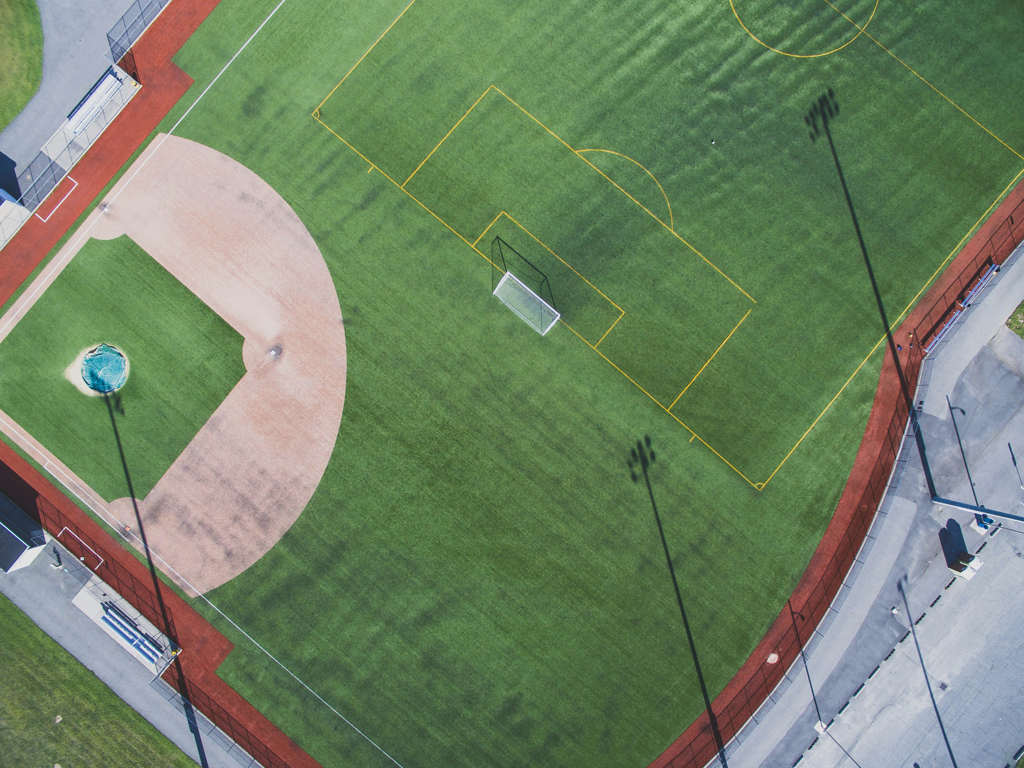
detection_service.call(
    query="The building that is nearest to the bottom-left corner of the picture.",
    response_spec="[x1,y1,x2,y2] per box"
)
[0,502,46,581]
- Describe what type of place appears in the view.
sports ground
